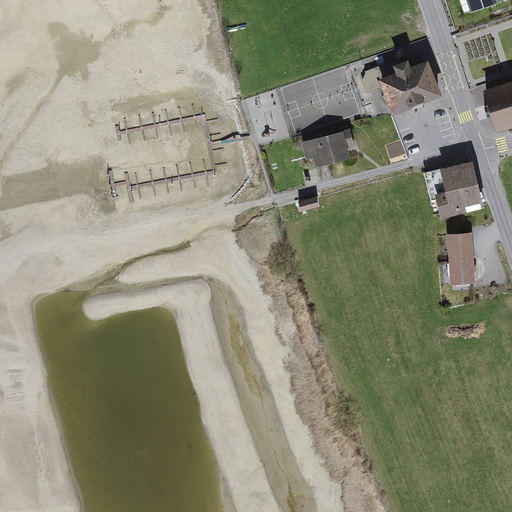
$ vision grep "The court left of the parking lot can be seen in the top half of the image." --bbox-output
[276,66,360,137]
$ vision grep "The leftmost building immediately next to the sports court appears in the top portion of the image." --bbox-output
[302,129,353,166]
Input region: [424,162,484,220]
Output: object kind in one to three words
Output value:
building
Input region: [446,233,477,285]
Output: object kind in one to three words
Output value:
house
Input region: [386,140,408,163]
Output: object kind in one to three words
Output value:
shed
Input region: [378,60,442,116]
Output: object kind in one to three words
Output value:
building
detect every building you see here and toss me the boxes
[302,129,353,166]
[482,82,512,134]
[378,60,442,116]
[424,162,484,220]
[298,194,320,214]
[460,0,496,14]
[386,140,408,163]
[446,233,477,285]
